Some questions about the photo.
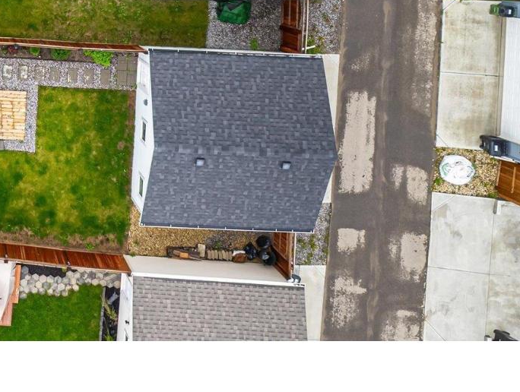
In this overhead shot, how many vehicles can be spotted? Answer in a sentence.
No vehicles are visible.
